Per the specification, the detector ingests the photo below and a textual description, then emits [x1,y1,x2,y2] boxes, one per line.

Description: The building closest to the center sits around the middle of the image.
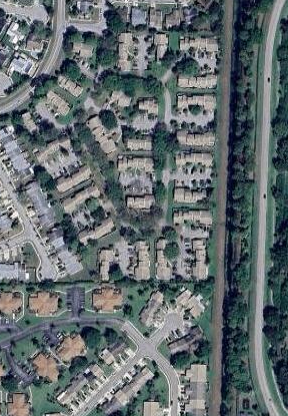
[127,194,153,210]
